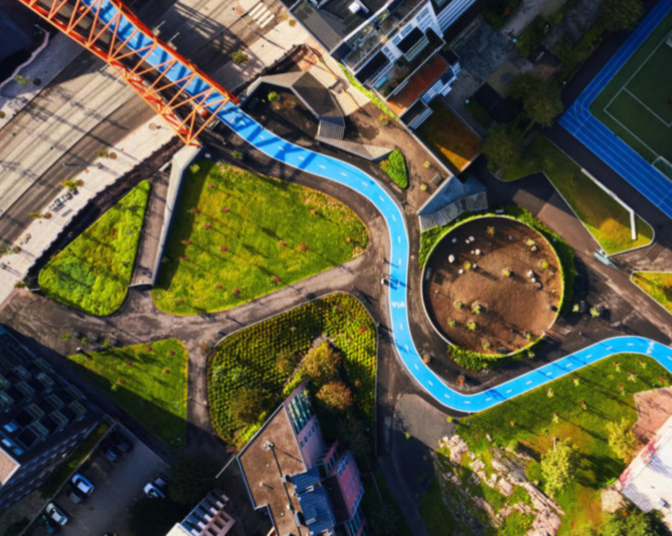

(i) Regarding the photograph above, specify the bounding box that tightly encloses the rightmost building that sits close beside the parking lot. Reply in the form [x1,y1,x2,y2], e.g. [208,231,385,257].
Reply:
[237,381,376,536]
